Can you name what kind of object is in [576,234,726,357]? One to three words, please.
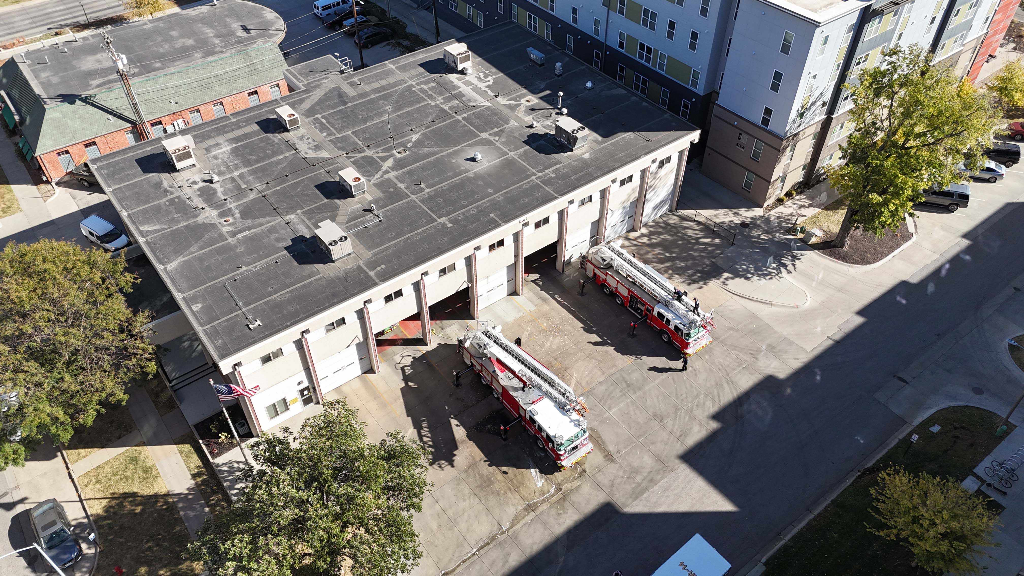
truck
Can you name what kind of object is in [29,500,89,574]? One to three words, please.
car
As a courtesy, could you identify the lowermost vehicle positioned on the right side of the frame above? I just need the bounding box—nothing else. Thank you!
[648,534,731,576]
